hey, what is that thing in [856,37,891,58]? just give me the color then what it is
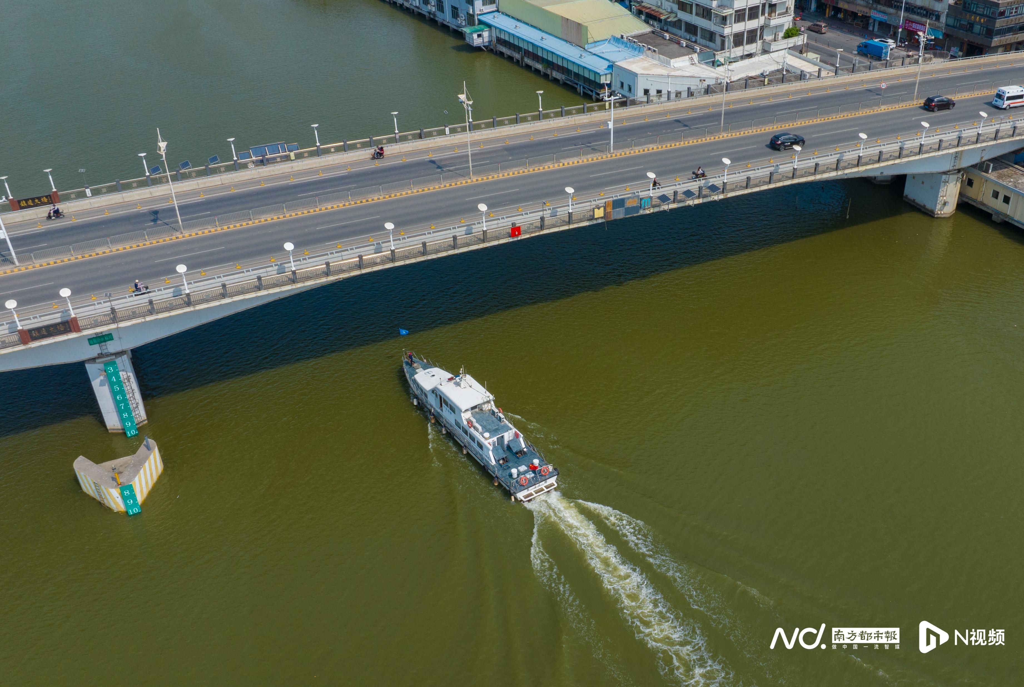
blue truck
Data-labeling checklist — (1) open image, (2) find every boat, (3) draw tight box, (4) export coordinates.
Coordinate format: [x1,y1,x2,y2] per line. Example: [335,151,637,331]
[397,327,561,507]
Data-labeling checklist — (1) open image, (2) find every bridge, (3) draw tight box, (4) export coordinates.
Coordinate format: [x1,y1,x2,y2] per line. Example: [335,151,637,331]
[0,50,1024,433]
